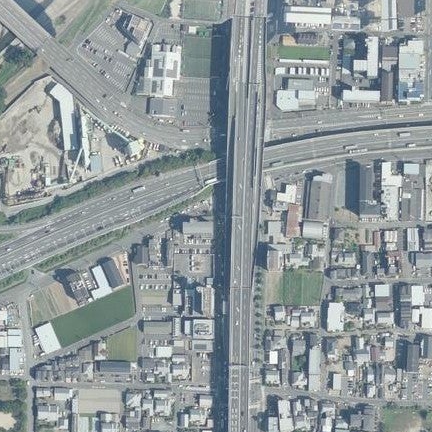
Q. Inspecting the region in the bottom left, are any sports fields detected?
Yes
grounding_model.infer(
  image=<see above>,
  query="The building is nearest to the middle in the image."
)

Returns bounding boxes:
[182,220,213,235]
